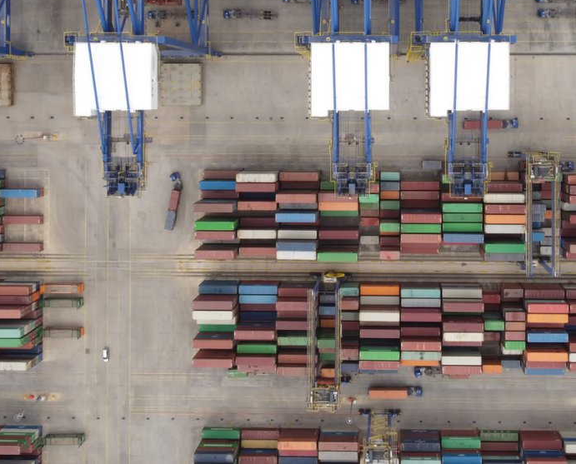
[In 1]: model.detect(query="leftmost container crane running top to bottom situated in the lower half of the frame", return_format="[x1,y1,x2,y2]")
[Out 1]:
[306,267,354,411]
